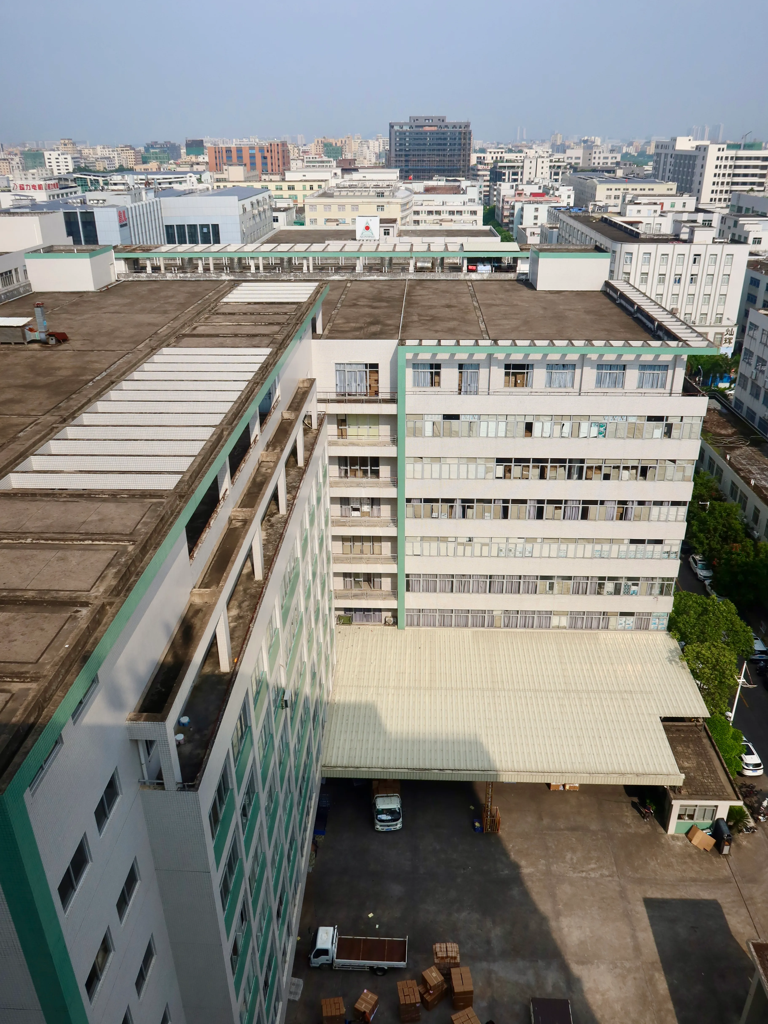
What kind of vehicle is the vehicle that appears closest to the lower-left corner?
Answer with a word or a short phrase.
truck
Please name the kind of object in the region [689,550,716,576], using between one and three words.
car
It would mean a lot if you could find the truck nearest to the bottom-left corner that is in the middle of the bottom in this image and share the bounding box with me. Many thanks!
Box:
[307,920,408,971]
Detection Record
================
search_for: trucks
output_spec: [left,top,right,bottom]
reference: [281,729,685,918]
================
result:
[307,920,408,971]
[371,778,406,824]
